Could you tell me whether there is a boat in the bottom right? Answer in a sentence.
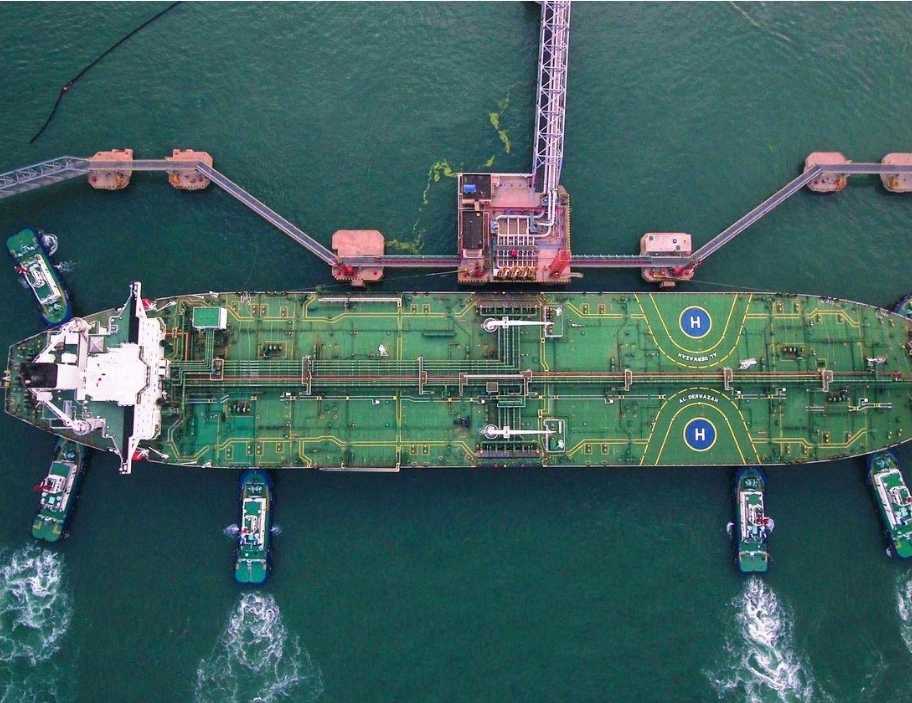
Yes, I can see a boat in the bottom right.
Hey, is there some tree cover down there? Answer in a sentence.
No, no tree cover is visible.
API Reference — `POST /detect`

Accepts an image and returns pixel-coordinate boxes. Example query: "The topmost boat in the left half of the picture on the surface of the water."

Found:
[5,229,66,327]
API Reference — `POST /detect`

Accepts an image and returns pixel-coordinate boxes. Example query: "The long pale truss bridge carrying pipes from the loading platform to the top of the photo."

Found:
[533,0,573,211]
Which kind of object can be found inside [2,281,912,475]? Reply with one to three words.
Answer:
ship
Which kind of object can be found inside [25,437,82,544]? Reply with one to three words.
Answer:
boat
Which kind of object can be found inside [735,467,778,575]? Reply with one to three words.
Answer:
boat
